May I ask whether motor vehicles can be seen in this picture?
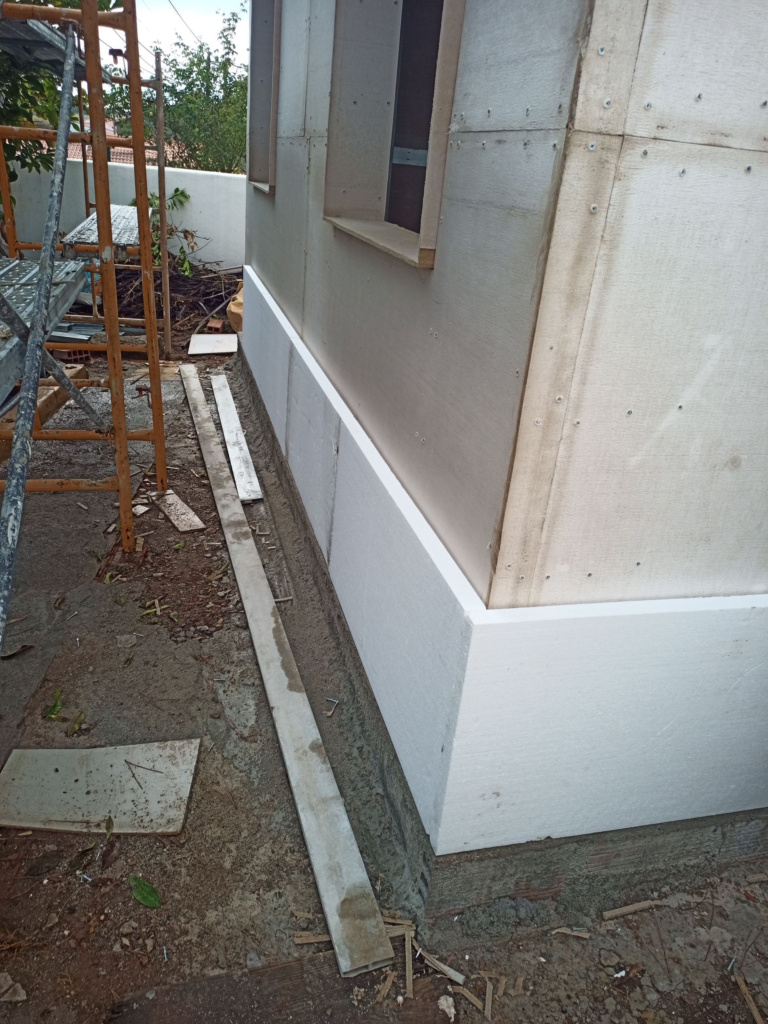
No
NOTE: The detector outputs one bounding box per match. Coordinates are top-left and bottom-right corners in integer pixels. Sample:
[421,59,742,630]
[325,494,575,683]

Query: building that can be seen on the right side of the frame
[220,0,768,938]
